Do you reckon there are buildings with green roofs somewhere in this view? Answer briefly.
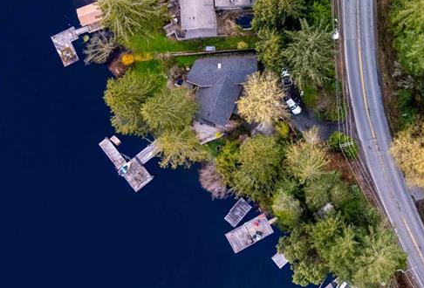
No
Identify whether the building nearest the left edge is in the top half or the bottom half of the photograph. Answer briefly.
top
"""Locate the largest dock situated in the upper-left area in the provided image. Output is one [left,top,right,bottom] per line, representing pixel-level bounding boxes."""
[49,17,111,67]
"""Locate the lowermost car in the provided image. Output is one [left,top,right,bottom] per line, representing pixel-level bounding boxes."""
[284,95,302,116]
